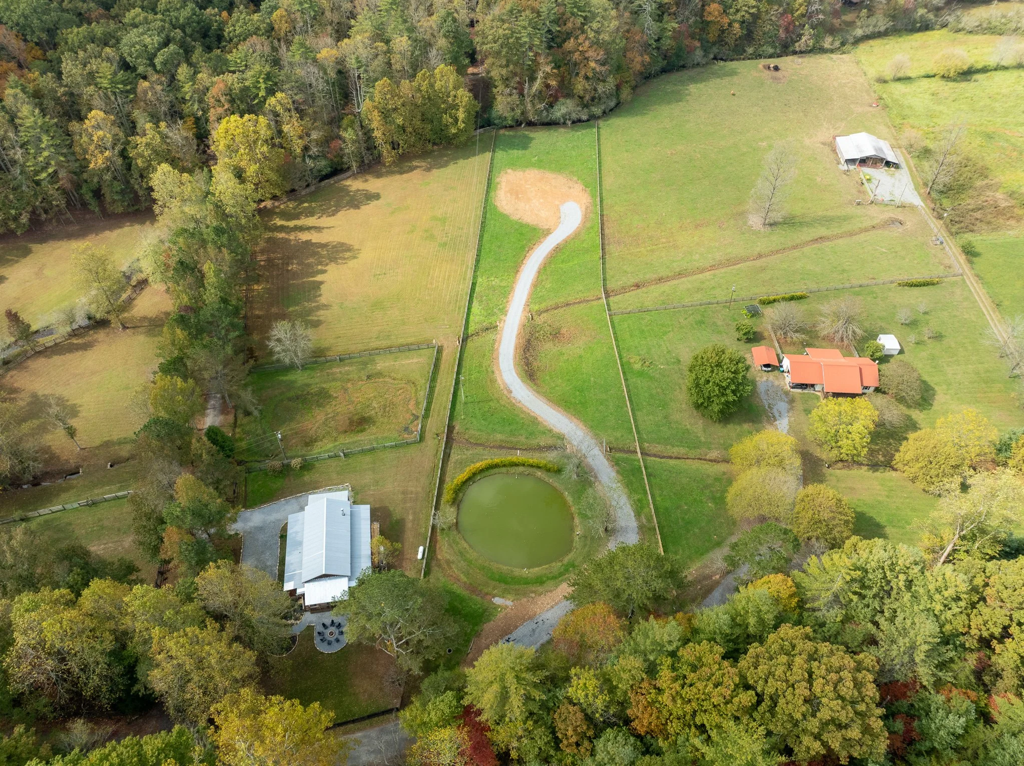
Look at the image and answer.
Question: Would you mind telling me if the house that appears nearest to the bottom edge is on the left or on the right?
left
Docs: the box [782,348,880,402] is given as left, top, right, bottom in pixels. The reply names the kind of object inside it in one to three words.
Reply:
house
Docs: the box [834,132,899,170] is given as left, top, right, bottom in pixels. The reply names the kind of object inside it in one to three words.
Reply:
barn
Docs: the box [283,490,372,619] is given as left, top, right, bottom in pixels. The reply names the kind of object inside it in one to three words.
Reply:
house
